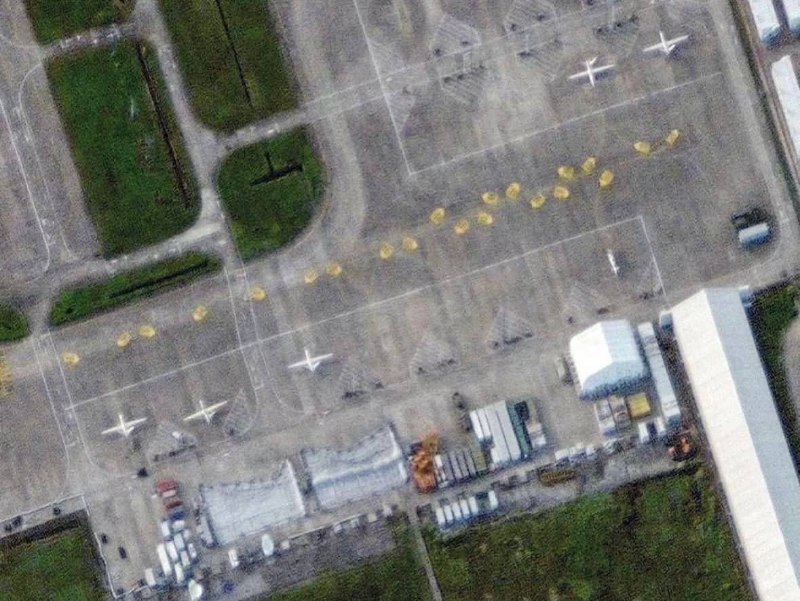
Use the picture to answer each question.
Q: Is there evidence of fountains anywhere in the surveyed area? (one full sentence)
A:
No, there isn't any fountain down there.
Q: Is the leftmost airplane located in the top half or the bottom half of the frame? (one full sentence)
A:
It is in the bottom half that the leftmost airplane appears.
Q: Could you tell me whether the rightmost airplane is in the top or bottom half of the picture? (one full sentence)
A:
The rightmost airplane is in the top half of the image.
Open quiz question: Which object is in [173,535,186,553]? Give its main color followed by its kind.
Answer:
white vehicle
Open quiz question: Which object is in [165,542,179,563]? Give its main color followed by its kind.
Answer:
white vehicle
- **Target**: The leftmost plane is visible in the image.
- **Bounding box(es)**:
[100,415,147,437]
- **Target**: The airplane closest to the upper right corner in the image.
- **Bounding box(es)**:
[641,32,687,54]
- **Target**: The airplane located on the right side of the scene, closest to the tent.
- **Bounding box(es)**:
[608,250,620,276]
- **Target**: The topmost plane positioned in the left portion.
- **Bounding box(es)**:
[286,351,332,372]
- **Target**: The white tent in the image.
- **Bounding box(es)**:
[569,322,645,392]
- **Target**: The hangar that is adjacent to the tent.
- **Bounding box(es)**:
[667,288,800,601]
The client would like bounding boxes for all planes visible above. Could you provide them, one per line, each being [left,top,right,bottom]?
[568,55,614,86]
[286,351,332,372]
[100,415,147,437]
[608,250,620,276]
[182,402,228,424]
[641,32,687,54]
